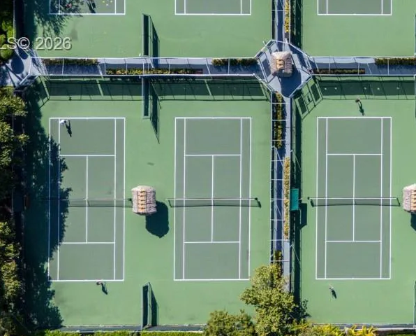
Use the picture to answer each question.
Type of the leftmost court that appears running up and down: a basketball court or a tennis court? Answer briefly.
tennis court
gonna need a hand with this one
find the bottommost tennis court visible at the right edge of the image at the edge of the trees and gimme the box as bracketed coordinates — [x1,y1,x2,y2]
[295,76,416,325]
